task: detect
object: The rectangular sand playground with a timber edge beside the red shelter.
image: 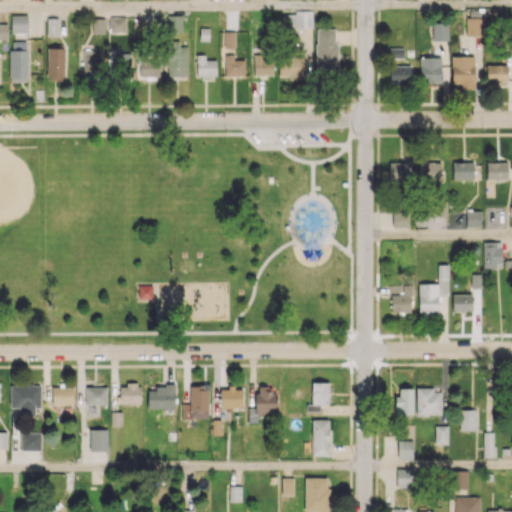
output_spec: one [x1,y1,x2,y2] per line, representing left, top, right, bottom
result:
[158,282,230,322]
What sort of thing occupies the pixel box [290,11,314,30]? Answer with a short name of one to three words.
building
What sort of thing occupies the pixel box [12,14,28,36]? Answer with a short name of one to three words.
building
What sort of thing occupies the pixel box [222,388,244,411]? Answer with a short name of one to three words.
house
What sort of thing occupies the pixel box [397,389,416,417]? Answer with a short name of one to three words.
house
